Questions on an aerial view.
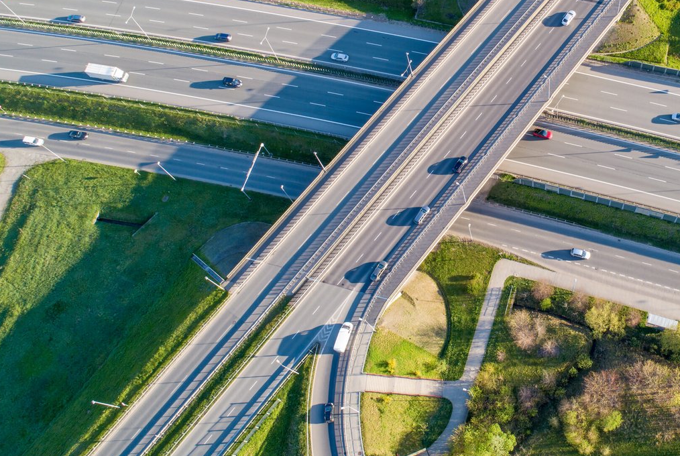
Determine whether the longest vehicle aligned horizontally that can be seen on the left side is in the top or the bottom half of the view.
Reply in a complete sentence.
Seen from above, the longest vehicle aligned horizontally that can be seen on the left side lies in the top half of the view.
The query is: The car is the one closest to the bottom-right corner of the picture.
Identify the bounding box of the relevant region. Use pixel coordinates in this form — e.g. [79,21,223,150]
[570,247,590,260]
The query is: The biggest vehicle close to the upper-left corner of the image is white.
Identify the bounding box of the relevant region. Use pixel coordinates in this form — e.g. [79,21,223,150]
[83,61,127,81]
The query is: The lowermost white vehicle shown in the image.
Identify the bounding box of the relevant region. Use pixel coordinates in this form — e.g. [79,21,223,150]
[331,322,352,354]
